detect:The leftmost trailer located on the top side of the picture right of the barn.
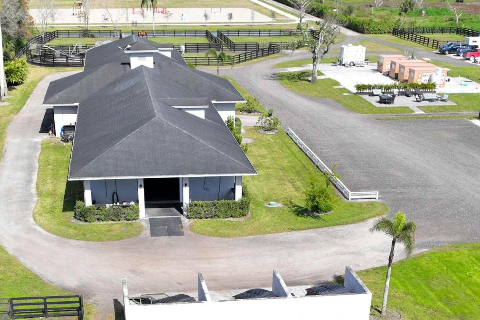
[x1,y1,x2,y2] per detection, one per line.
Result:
[332,36,375,65]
